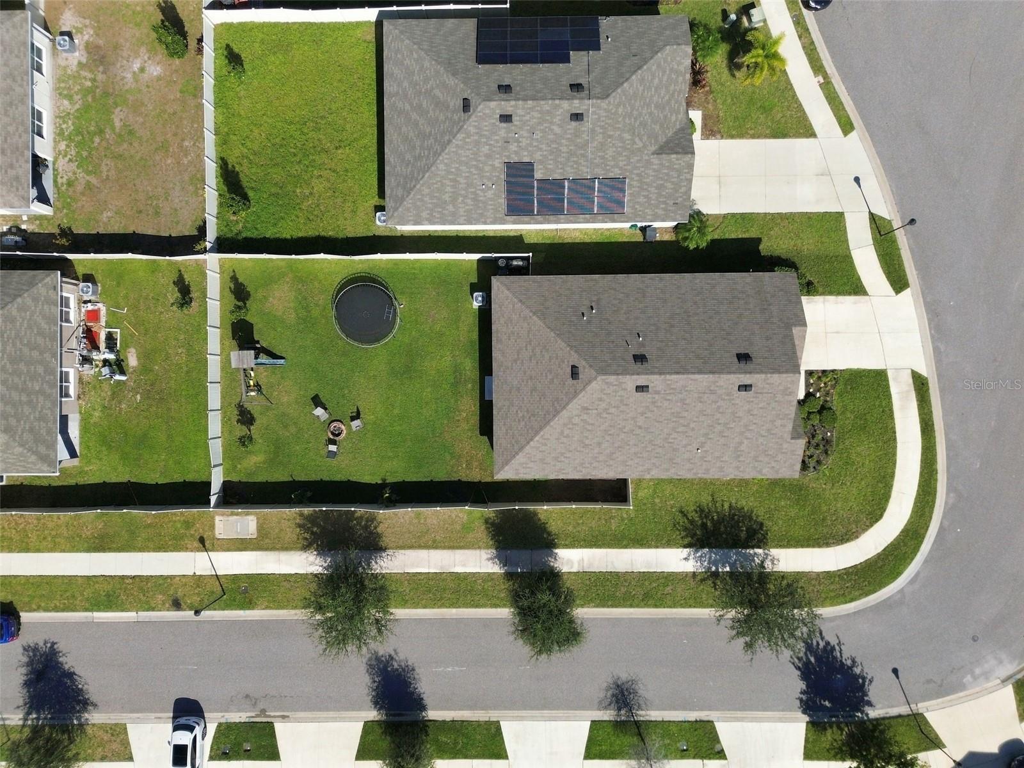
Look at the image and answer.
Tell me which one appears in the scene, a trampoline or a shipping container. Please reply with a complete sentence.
I can see a trampoline in this picture.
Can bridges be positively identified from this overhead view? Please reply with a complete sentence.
No, there is no bridge in the image.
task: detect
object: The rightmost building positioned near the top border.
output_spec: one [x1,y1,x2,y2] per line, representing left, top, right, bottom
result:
[383,15,698,229]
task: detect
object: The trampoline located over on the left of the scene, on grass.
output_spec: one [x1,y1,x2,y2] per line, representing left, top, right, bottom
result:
[334,282,399,347]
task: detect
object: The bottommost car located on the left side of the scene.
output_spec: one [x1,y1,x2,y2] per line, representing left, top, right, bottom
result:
[171,719,206,768]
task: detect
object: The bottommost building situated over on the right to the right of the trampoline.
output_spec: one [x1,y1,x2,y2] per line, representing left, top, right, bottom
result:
[485,274,807,480]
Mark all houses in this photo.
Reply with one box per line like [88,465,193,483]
[0,269,79,474]
[485,274,807,480]
[0,9,54,214]
[383,15,698,229]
